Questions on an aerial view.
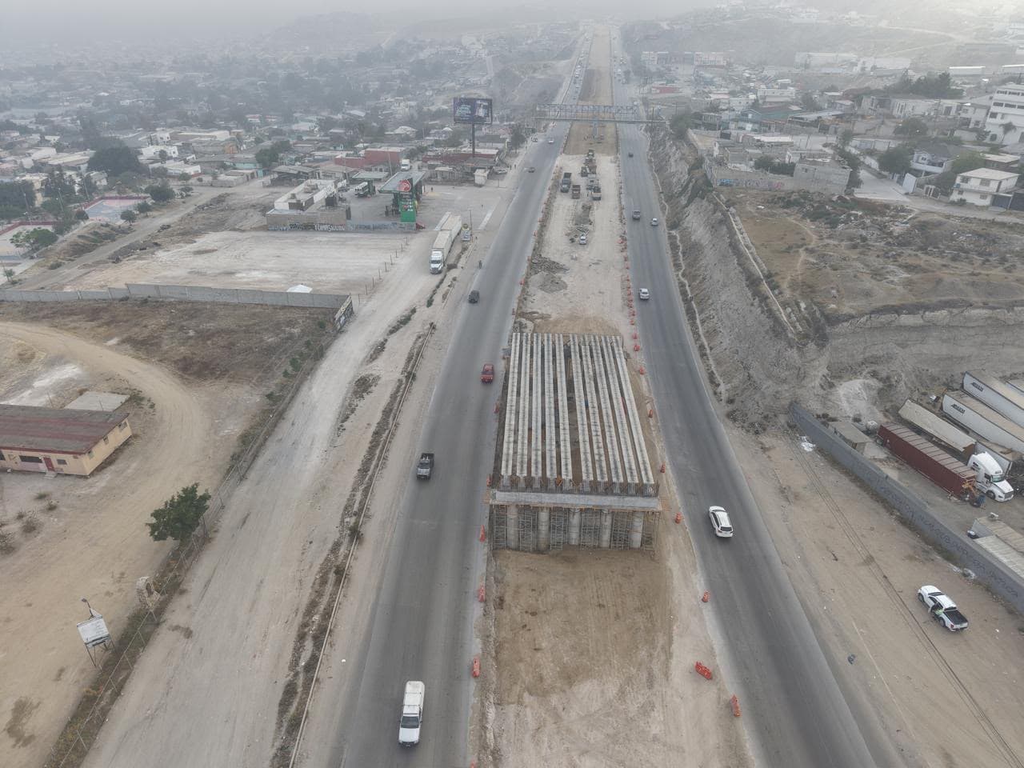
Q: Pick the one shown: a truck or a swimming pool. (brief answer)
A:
truck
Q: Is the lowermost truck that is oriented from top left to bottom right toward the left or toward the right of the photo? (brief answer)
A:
right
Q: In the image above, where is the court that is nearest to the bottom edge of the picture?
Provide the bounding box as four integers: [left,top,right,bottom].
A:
[0,218,62,264]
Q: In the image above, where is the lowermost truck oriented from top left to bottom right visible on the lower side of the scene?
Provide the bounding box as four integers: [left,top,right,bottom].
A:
[918,587,978,636]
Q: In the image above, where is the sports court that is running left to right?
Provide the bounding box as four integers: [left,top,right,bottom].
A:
[82,194,150,222]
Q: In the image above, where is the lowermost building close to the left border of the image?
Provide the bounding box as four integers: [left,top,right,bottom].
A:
[0,404,133,481]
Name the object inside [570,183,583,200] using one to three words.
vehicle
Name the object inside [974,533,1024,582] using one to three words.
shed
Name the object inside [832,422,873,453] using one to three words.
shed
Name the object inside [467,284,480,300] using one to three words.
vehicle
